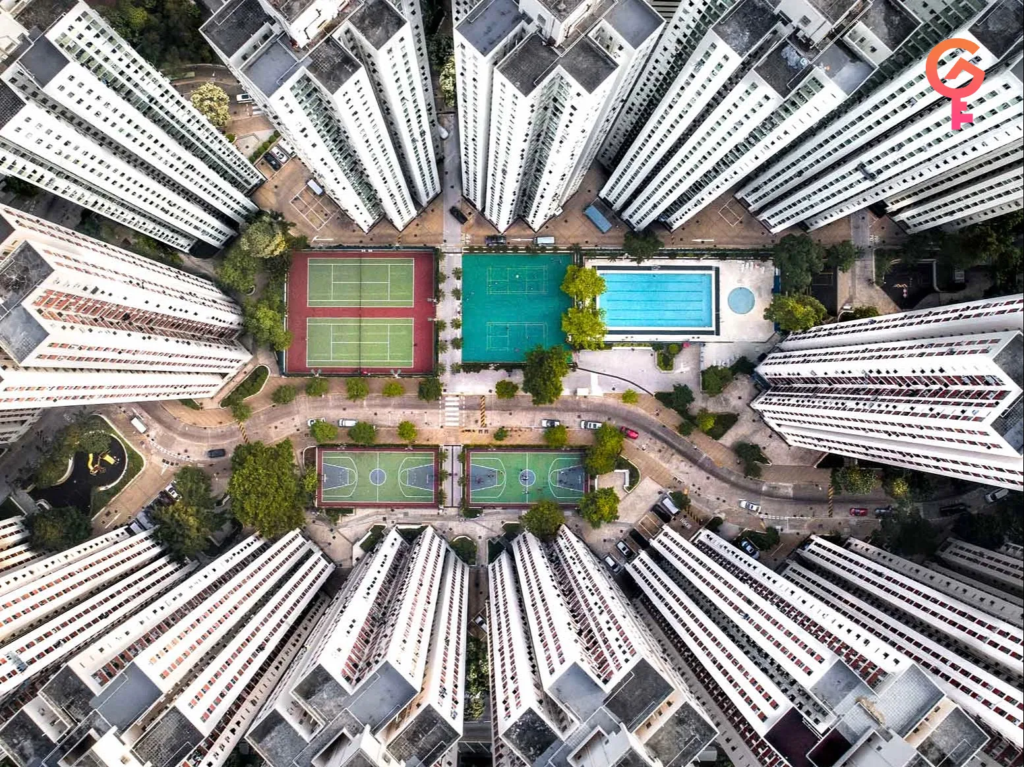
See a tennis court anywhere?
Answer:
Yes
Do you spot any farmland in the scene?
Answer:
No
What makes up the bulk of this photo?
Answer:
buildings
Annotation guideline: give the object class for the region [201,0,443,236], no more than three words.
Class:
building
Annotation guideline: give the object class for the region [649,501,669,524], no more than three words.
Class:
vehicle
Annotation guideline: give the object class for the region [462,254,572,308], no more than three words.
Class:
sports court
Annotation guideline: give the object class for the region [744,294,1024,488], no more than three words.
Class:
building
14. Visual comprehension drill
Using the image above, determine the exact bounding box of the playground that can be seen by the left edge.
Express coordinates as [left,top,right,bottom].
[32,436,124,513]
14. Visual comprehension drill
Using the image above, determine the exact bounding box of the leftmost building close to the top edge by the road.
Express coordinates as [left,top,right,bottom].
[0,0,266,251]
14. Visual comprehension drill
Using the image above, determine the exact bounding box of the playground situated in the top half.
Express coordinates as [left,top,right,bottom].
[879,260,937,310]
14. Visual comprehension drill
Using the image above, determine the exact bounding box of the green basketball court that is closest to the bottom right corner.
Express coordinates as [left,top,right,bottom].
[466,448,588,508]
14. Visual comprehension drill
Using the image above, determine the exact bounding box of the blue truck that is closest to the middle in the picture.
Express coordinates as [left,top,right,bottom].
[584,206,615,233]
